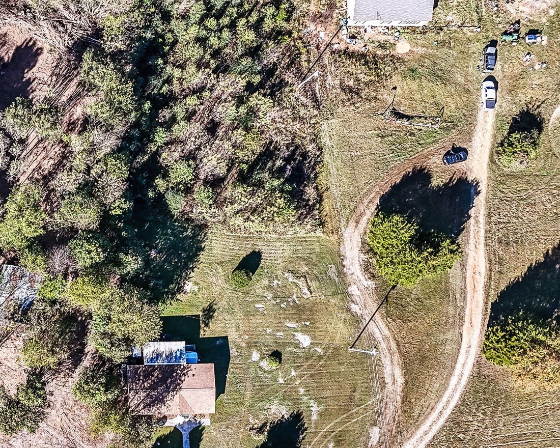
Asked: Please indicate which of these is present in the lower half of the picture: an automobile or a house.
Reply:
house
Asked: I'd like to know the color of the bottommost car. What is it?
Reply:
blue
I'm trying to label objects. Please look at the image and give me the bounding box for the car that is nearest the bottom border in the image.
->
[440,146,467,166]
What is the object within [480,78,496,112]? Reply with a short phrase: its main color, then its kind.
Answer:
white vehicle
